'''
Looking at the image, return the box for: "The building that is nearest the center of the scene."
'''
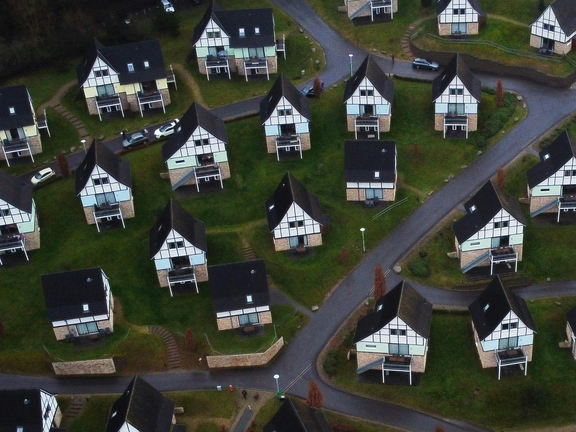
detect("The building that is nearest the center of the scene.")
[265,174,332,250]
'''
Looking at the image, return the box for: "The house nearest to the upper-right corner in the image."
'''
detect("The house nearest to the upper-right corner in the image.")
[528,0,576,54]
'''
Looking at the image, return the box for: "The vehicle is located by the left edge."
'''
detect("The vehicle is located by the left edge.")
[29,168,56,184]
